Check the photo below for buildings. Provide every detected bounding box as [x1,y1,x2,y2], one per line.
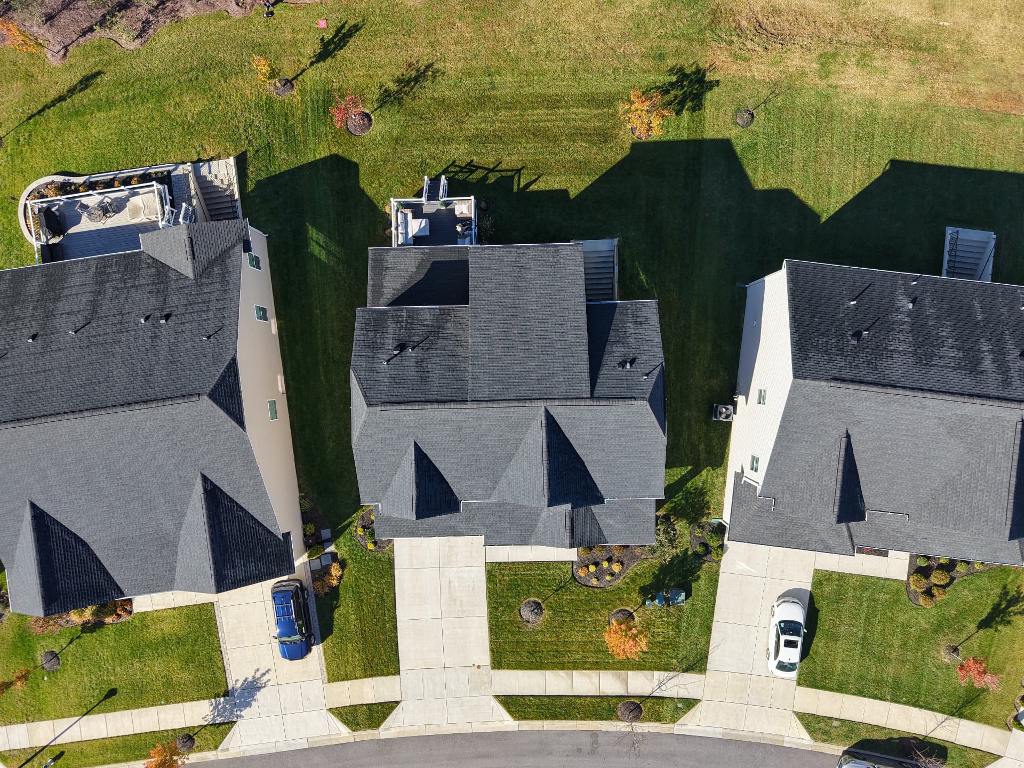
[350,240,669,548]
[0,218,307,622]
[713,257,1024,569]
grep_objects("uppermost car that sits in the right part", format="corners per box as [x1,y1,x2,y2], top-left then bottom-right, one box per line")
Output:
[763,593,810,678]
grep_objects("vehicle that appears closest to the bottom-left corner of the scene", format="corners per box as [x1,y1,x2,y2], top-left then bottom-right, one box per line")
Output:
[271,578,316,660]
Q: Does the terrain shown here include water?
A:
No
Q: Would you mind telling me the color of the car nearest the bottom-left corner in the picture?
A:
blue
